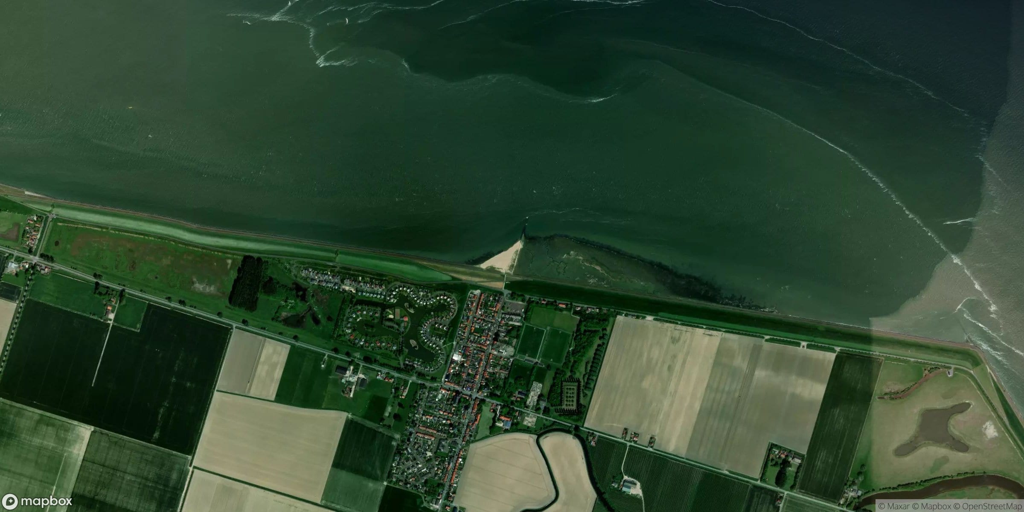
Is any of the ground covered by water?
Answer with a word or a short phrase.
Yes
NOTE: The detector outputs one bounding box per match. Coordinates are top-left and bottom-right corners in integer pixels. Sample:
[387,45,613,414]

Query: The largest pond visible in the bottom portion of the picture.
[895,402,971,456]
